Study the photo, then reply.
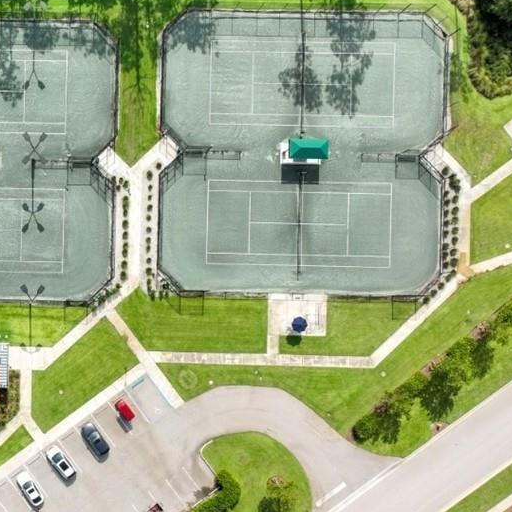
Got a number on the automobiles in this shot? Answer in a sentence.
Altogether the scene contains 3 automobiles.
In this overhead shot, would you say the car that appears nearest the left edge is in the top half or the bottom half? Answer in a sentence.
The car that appears nearest the left edge is in the bottom half of the image.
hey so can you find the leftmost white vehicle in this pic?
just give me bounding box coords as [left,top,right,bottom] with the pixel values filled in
[16,469,47,509]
